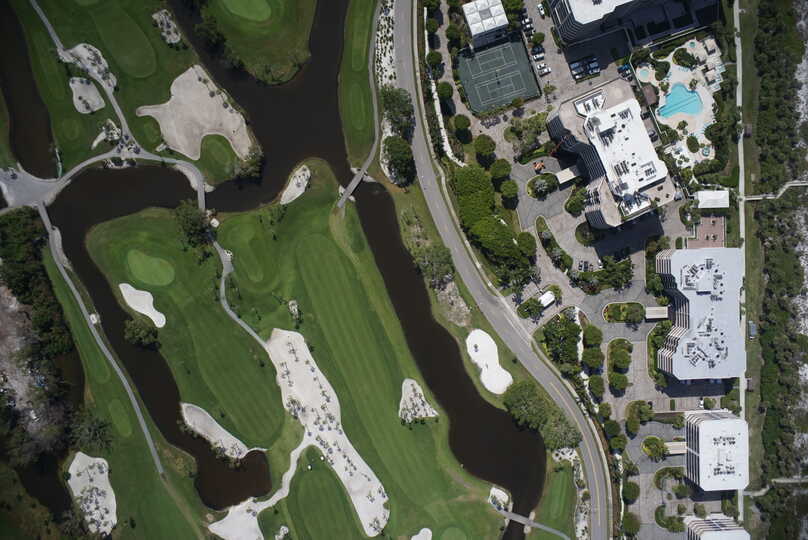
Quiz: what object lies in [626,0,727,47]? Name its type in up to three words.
building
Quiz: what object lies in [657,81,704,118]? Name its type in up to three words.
swimming pool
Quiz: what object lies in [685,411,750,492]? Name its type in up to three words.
building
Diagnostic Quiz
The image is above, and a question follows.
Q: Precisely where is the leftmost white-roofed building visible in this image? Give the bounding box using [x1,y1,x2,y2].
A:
[462,0,507,39]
